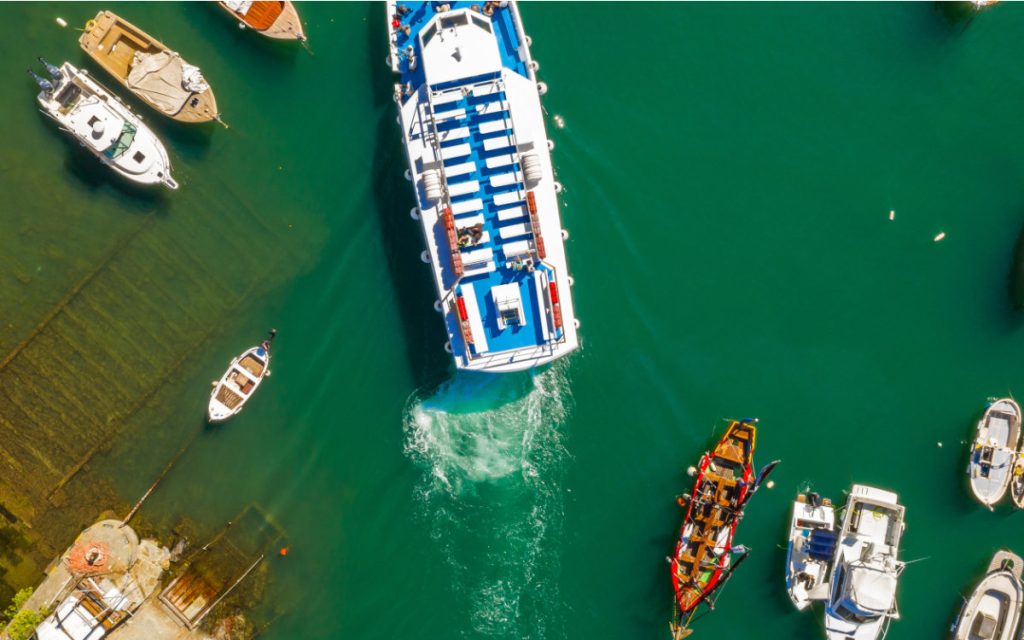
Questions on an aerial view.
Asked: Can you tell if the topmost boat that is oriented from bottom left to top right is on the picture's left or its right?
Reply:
left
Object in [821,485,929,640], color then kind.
white boat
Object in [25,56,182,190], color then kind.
white boat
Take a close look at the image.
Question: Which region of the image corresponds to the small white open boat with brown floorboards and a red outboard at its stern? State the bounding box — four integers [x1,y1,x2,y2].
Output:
[208,332,275,423]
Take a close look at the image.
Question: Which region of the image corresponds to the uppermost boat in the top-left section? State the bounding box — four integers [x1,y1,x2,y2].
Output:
[216,0,312,55]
